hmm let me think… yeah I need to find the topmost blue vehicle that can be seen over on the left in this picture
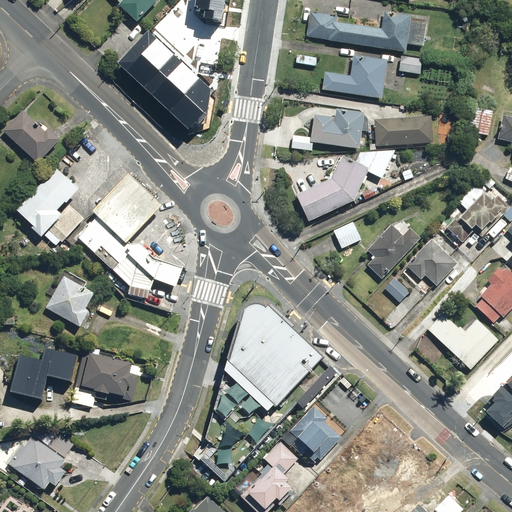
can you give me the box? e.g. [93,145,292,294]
[81,138,96,154]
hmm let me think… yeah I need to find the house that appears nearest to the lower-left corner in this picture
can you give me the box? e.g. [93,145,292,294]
[8,434,66,491]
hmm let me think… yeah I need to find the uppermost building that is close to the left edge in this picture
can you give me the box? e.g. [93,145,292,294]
[4,110,56,162]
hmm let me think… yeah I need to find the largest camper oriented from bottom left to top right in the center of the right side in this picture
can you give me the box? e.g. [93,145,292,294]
[488,218,507,238]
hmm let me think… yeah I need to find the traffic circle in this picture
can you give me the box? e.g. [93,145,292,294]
[200,193,240,234]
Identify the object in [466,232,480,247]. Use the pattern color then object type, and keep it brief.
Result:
white vehicle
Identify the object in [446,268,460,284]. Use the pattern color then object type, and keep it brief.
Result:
white vehicle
